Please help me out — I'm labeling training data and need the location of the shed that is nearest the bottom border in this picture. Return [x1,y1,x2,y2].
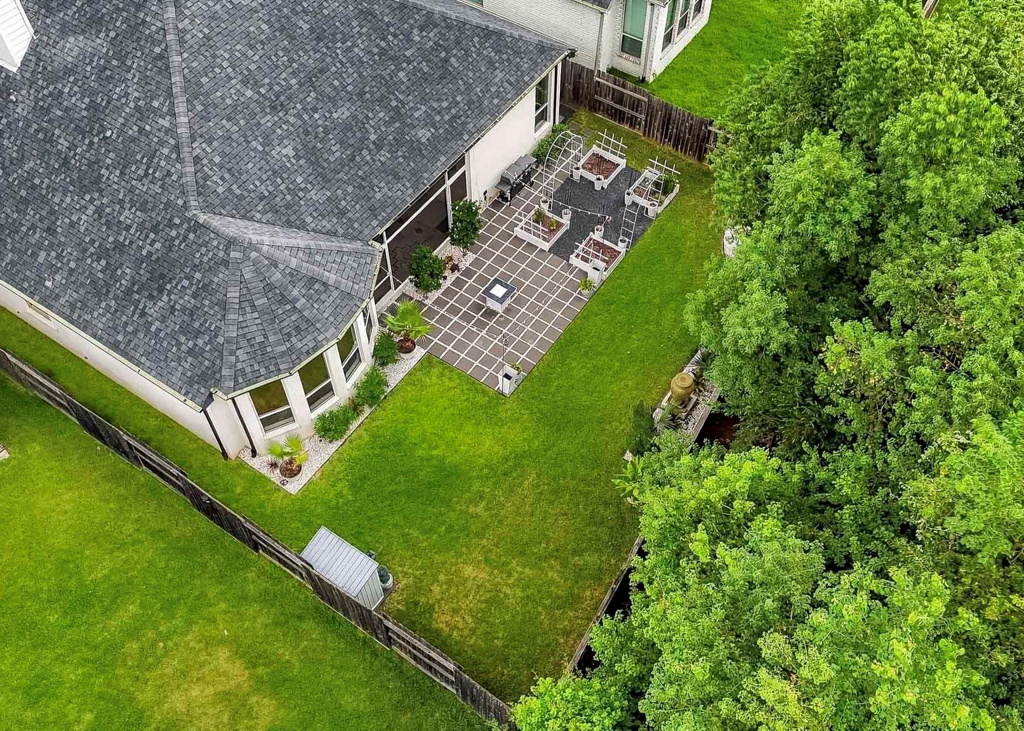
[301,522,384,606]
